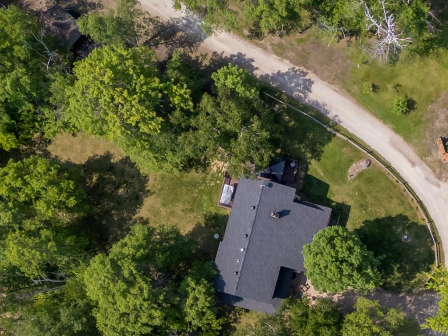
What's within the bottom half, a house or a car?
house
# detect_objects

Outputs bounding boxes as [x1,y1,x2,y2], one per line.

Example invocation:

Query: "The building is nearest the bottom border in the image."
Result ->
[204,178,336,314]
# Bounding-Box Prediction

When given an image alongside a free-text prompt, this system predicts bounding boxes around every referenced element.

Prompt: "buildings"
[42,3,88,53]
[204,178,336,314]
